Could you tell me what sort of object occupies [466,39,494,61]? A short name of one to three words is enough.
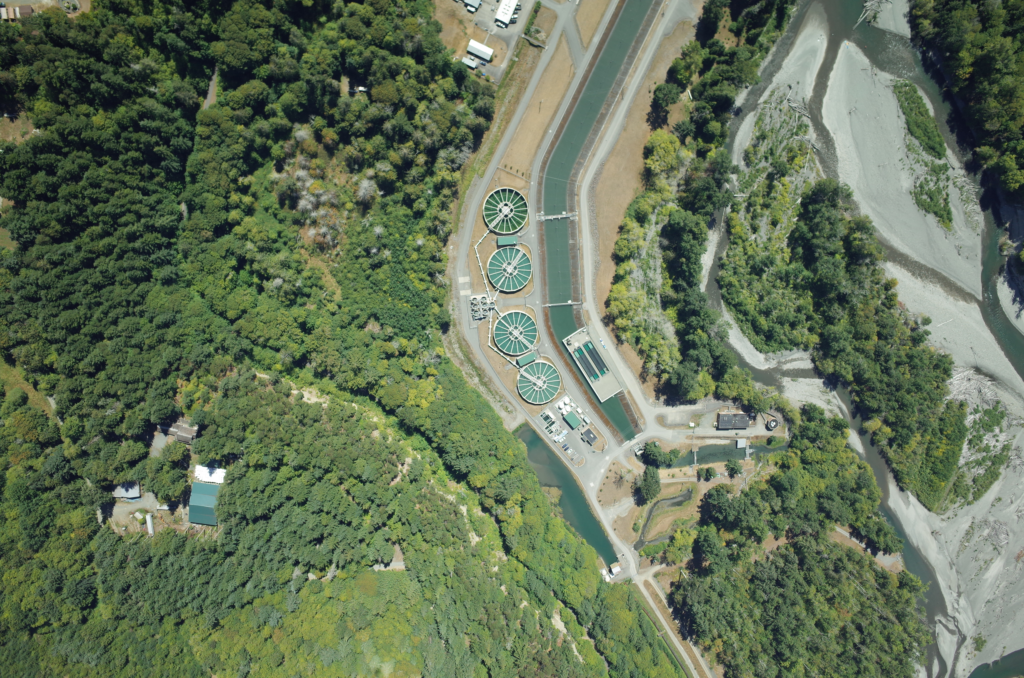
house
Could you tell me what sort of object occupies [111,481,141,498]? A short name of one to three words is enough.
shed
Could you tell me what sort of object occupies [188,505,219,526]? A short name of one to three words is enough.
barn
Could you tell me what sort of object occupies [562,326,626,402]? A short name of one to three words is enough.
house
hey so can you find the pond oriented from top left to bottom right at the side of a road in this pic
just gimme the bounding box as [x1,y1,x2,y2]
[516,423,614,567]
